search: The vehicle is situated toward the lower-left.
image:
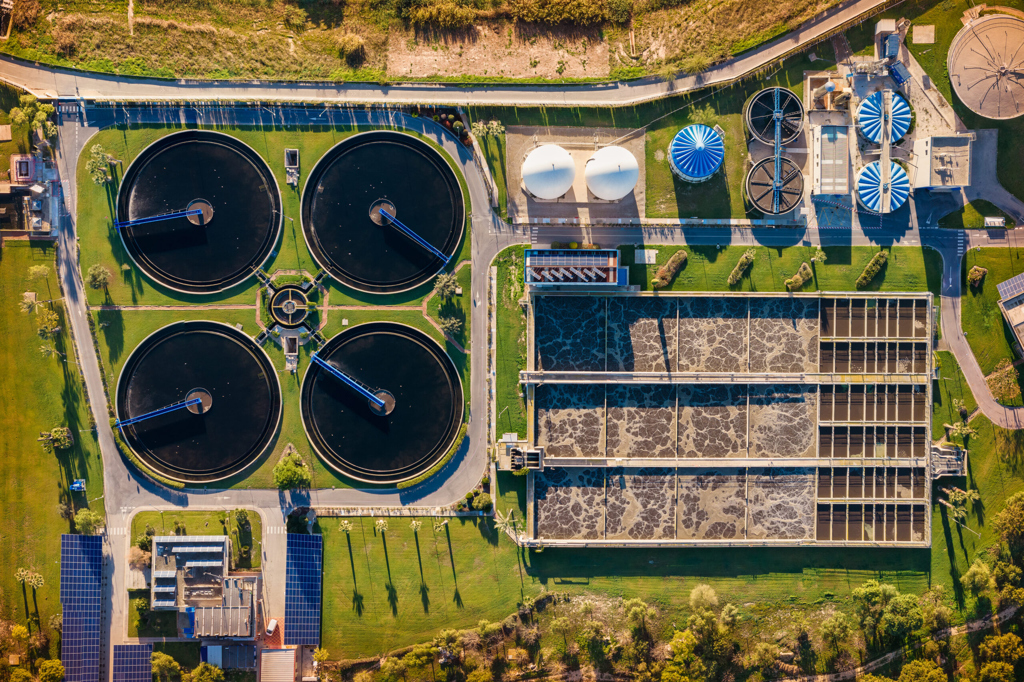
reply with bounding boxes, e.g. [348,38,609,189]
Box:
[262,617,280,638]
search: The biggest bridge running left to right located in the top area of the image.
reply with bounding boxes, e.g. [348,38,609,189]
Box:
[112,207,202,234]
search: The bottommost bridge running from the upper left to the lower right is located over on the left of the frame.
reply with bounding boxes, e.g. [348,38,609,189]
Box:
[308,350,385,407]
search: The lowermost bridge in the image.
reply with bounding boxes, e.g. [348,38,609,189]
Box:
[113,398,202,433]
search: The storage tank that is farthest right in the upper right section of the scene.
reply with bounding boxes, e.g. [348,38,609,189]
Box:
[945,14,1024,121]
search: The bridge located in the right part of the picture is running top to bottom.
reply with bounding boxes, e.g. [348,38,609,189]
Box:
[769,84,781,214]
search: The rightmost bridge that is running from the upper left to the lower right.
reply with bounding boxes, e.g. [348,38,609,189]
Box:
[378,207,453,268]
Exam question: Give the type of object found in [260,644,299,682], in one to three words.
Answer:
shed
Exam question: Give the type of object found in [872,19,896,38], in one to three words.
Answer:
shed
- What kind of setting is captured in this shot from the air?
industrial area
